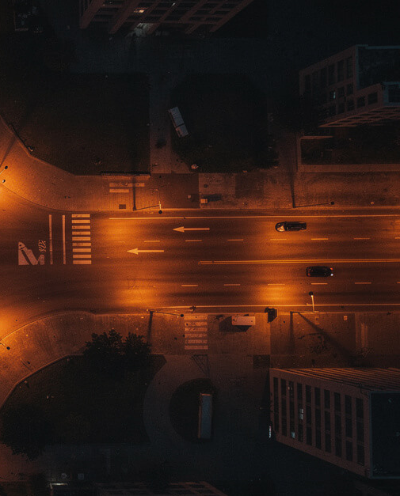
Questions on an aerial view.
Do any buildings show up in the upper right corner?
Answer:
Yes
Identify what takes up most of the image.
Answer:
paved ground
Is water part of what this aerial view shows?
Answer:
No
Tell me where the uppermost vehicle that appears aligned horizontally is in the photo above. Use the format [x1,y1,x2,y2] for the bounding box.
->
[276,220,309,233]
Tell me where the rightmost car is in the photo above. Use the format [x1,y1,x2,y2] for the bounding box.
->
[308,265,336,278]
